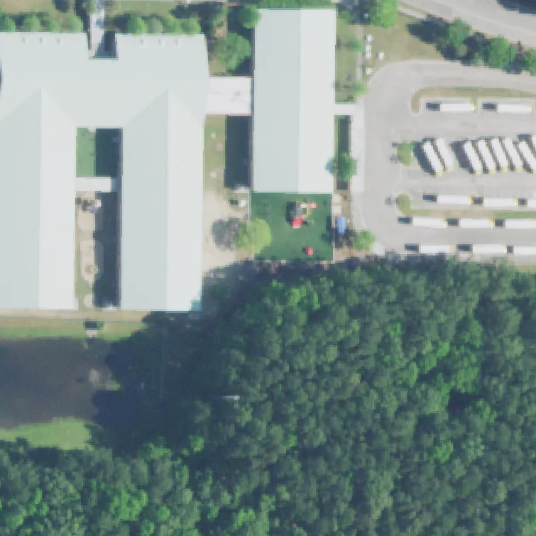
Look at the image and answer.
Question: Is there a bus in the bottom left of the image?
No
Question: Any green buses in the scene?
No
